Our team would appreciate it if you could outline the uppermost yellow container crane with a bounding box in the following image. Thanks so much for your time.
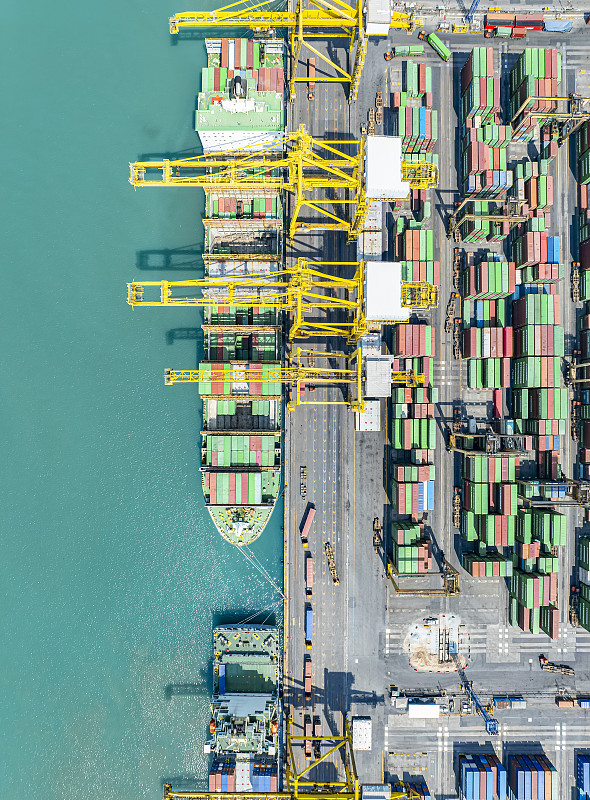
[167,0,424,110]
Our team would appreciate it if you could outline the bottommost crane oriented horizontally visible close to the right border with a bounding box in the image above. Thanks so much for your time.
[511,475,590,506]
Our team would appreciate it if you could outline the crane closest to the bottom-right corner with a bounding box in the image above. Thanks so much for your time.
[452,649,502,746]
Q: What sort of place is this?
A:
port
